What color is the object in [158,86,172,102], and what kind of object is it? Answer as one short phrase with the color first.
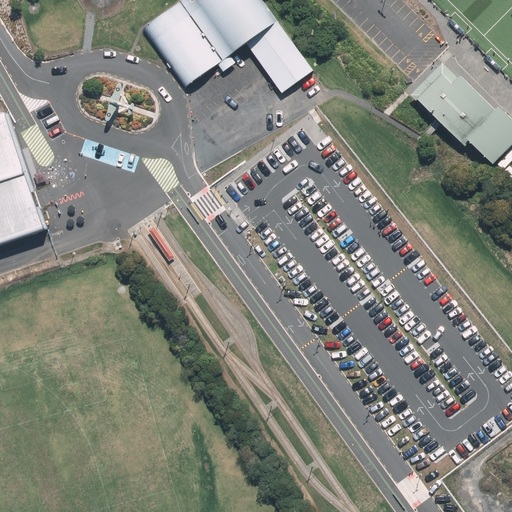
white car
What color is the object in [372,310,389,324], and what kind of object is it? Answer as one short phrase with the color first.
gray vehicle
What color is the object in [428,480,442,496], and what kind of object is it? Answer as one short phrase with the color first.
white car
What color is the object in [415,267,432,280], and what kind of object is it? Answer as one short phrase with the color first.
white vehicle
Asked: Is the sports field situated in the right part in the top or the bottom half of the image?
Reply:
top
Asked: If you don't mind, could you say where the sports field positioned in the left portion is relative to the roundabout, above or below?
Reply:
below it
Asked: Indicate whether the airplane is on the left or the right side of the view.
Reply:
left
